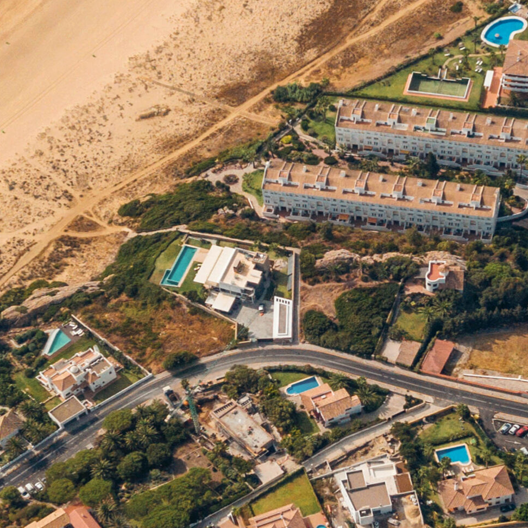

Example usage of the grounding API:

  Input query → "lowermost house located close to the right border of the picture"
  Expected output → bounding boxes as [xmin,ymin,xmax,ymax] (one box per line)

[437,465,516,517]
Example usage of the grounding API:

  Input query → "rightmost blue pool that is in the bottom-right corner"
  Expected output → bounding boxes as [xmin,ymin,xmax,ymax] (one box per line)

[433,443,473,467]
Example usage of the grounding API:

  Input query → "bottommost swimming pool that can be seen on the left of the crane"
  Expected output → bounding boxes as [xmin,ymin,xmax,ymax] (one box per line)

[46,326,73,357]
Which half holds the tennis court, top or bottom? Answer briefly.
top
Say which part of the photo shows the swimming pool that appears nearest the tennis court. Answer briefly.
top right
